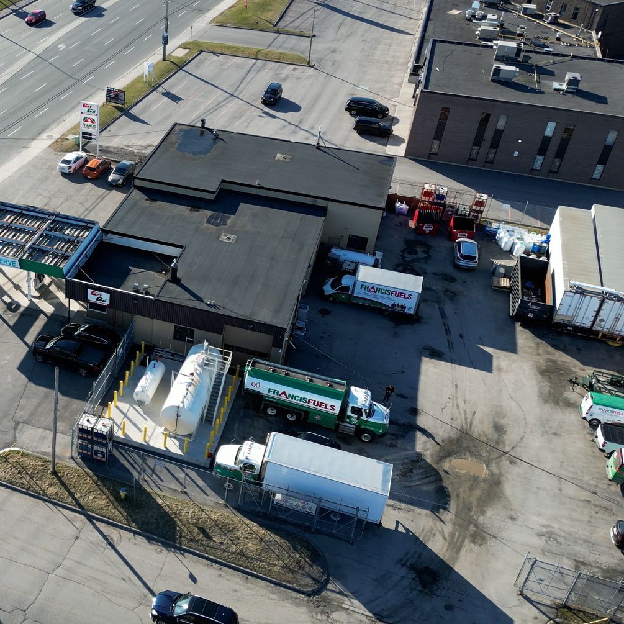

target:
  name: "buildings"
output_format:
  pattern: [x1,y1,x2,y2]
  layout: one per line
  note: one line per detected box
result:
[64,121,397,375]
[400,38,624,192]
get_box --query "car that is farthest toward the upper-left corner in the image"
[20,7,45,24]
